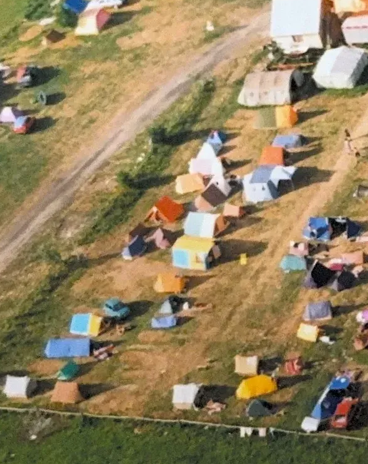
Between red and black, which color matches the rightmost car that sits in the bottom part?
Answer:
red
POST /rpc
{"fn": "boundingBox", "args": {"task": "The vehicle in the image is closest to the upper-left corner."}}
[16,57,34,87]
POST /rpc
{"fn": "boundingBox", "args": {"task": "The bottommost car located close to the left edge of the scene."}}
[9,108,37,133]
